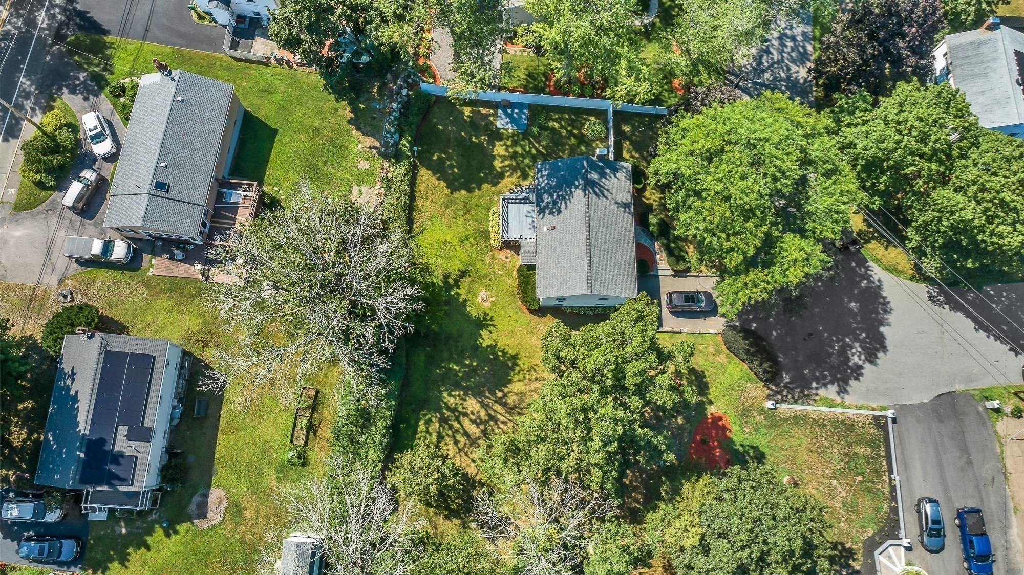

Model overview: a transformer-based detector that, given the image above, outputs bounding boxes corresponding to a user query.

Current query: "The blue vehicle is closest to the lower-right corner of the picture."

[953,506,995,575]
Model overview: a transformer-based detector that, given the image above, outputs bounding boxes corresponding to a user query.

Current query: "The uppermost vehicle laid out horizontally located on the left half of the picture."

[66,237,132,263]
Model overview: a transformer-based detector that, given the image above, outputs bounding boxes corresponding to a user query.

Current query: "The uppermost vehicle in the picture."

[83,112,119,159]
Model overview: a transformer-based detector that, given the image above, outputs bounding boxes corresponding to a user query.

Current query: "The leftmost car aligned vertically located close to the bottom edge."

[913,495,947,553]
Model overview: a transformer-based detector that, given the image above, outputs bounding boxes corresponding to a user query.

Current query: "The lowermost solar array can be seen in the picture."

[82,351,156,486]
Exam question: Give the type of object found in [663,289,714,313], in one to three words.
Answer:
car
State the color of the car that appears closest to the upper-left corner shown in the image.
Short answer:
white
